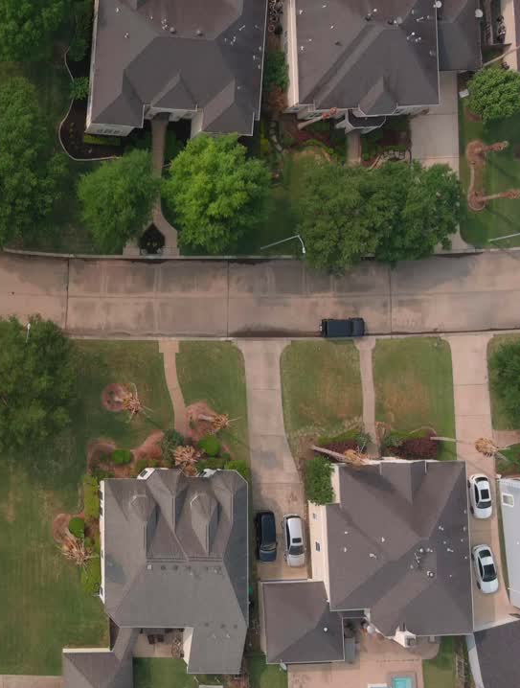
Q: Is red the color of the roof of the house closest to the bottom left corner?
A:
No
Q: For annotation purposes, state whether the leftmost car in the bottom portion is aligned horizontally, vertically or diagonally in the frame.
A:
vertically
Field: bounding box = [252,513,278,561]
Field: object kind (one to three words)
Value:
car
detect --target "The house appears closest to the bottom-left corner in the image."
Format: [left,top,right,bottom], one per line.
[61,464,249,688]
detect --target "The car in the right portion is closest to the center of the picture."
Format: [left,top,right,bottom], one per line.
[319,318,364,338]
